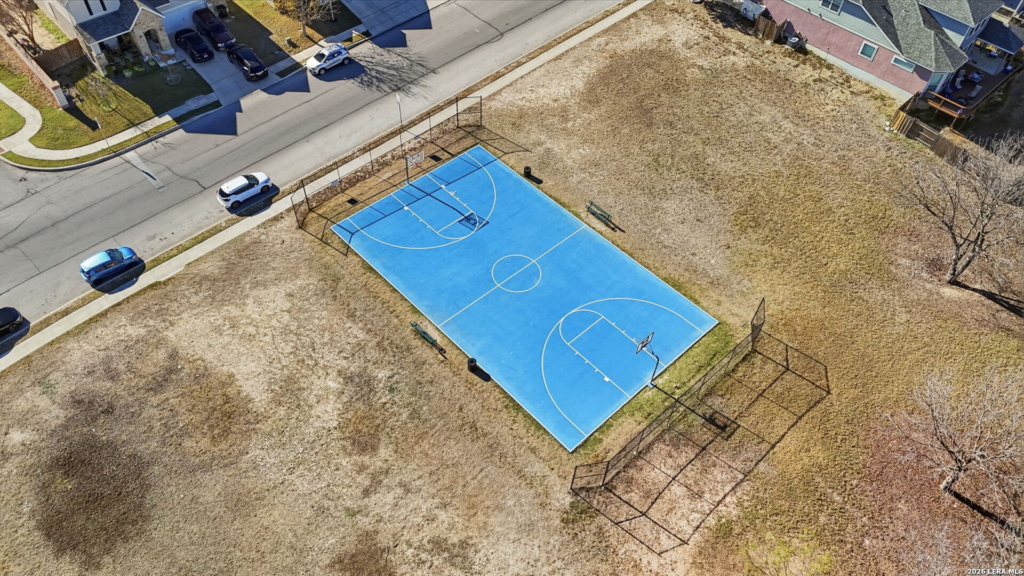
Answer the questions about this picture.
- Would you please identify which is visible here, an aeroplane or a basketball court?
basketball court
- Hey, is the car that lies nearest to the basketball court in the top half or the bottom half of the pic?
top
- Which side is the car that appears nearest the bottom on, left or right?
left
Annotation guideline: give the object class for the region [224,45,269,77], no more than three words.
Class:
car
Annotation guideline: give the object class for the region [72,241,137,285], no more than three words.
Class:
car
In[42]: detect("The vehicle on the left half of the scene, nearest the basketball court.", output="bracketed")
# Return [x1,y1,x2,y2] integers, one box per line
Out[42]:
[213,171,271,210]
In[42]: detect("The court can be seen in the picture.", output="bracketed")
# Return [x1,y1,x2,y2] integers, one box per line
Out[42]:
[331,145,718,452]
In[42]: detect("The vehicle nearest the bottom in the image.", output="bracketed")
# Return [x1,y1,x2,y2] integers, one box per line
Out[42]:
[0,303,26,335]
